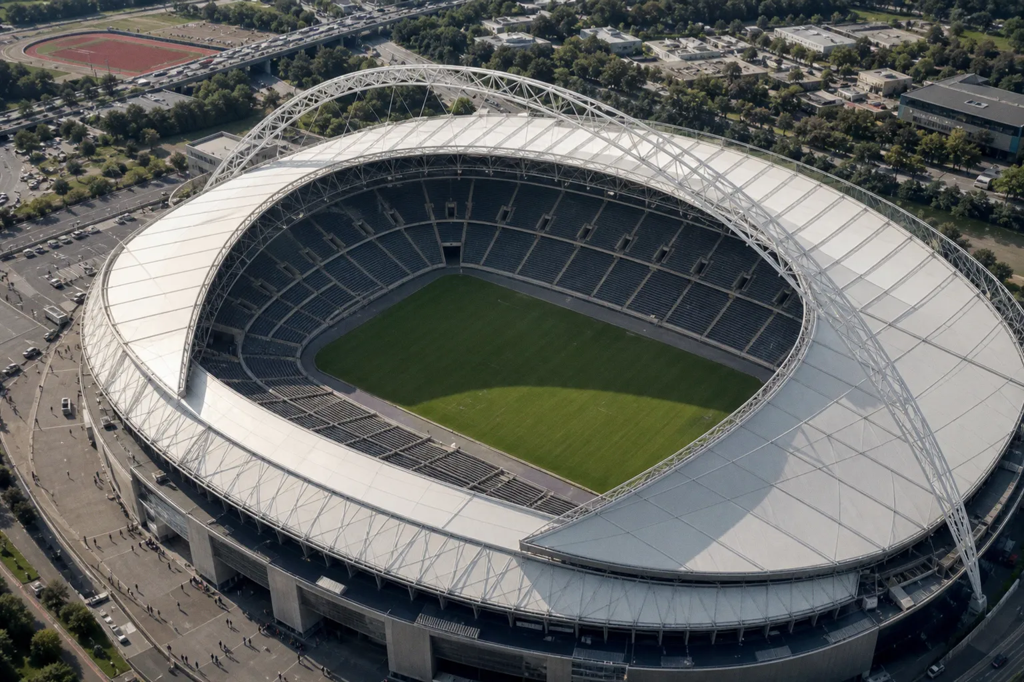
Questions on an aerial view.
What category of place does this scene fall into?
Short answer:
sports ground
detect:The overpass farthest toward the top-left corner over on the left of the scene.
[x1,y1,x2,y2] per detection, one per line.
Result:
[0,0,517,143]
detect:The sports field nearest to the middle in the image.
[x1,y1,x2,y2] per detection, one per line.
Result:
[308,271,760,498]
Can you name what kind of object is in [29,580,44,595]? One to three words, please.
car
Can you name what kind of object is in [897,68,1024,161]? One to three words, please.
building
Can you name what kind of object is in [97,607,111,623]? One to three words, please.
car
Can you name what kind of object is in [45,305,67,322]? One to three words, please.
vehicle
